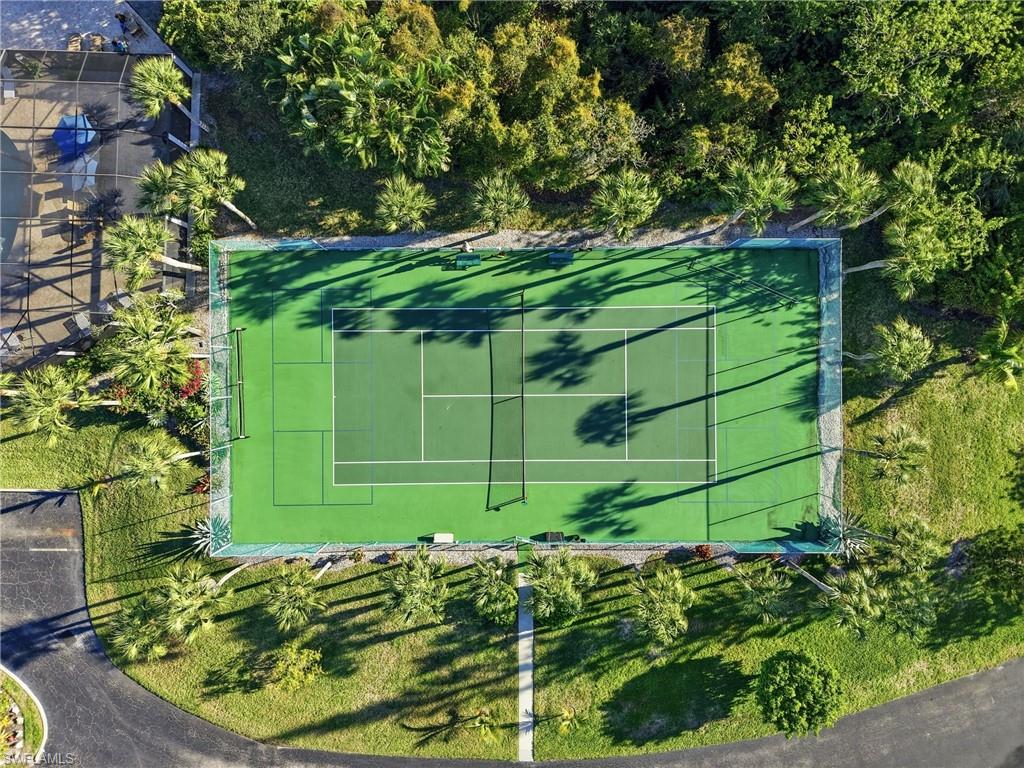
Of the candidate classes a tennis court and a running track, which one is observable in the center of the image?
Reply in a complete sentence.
What appears in the center of the image is a tennis court.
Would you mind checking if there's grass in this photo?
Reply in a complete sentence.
Yes, the picture does contain grass.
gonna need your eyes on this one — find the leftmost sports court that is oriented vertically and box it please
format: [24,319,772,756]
[272,289,373,506]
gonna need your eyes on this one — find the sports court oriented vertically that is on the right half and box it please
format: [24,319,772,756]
[676,287,778,502]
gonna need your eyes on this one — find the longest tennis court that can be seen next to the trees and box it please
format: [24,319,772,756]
[230,247,820,544]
